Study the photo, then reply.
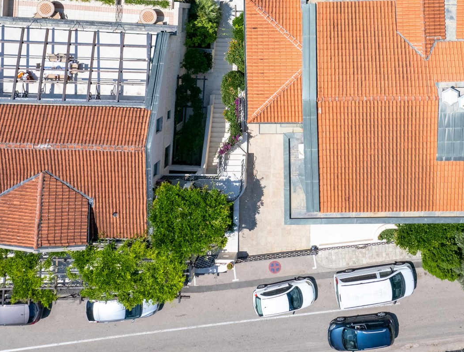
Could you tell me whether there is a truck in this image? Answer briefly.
No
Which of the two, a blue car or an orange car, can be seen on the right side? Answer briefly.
blue car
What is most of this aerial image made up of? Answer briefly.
buildings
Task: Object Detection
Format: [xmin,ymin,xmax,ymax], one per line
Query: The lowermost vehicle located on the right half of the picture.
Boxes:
[326,310,396,352]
